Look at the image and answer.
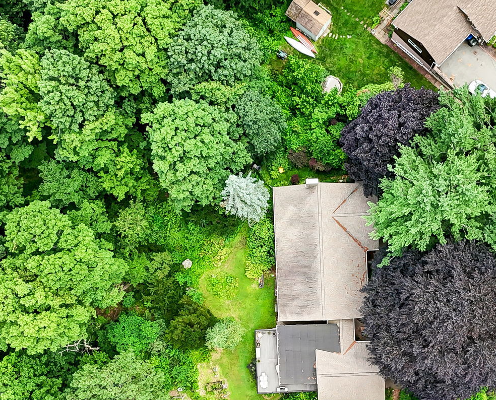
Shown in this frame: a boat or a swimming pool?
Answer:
boat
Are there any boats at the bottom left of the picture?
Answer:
No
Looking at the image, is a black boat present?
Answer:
No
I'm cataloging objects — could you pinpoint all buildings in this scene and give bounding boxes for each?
[391,0,496,73]
[283,0,334,44]
[274,176,389,400]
